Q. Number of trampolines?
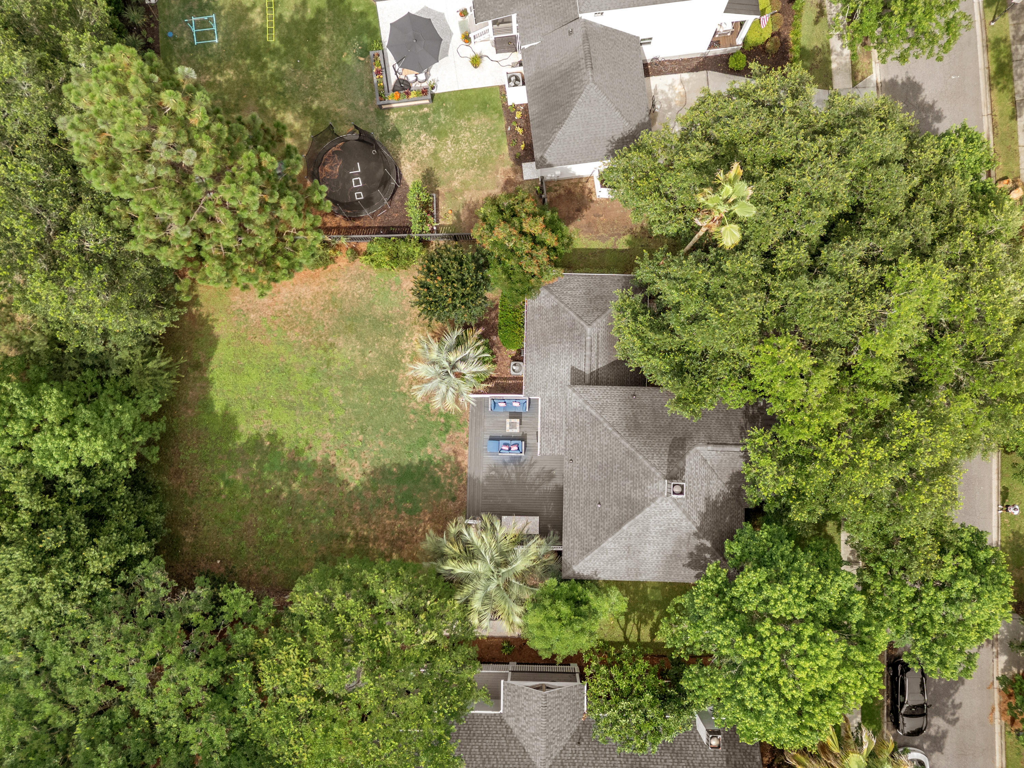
1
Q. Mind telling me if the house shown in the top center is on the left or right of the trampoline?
to the right of it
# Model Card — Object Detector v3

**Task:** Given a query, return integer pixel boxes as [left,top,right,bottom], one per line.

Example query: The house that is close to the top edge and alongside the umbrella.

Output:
[470,0,764,178]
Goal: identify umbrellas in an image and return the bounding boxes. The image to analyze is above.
[386,12,442,88]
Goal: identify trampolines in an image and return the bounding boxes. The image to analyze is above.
[303,122,395,216]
